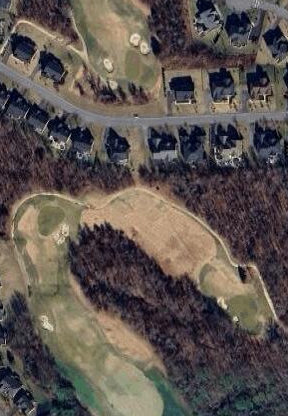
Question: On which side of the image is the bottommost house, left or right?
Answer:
left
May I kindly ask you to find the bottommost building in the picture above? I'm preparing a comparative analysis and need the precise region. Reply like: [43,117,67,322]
[5,387,37,411]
